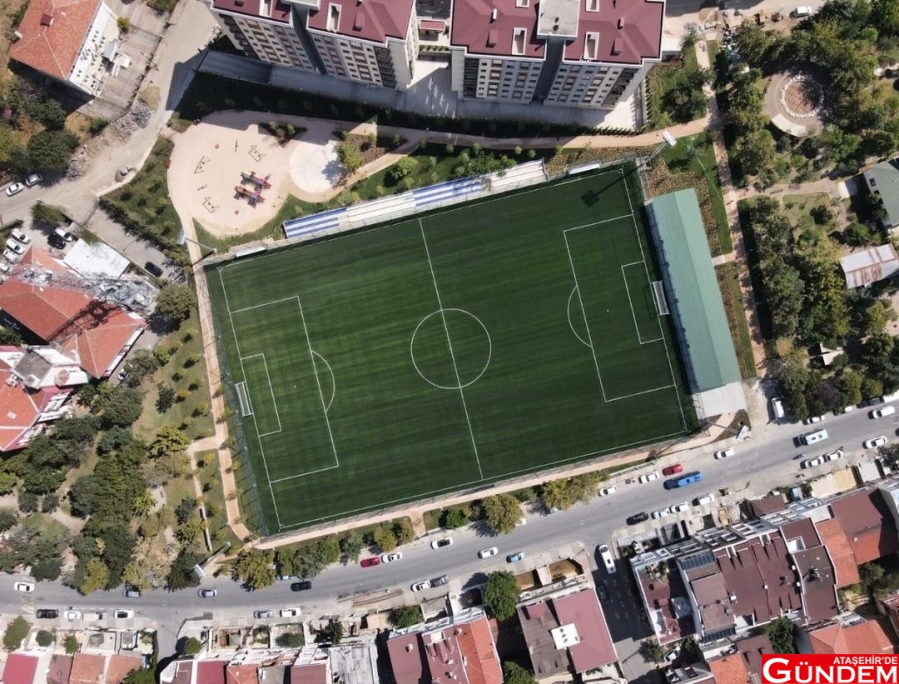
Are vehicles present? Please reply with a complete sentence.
Yes, there is a vehicle in the image.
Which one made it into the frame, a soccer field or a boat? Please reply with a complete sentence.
The one in the frame is a soccer field.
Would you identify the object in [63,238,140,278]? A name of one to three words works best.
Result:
building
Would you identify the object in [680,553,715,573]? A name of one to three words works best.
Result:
solar panel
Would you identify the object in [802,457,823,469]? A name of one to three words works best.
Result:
vehicle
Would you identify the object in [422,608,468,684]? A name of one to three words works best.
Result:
house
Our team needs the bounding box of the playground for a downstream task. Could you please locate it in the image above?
[165,110,355,229]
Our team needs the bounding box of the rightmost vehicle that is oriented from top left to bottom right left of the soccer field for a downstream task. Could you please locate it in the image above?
[143,261,163,277]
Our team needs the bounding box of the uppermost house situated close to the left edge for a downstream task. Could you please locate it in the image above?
[9,0,135,96]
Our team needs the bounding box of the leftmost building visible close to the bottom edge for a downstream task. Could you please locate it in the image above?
[3,641,57,684]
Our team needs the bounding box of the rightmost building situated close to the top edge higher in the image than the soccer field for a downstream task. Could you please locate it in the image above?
[449,0,667,112]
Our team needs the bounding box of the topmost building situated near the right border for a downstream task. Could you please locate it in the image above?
[849,149,899,228]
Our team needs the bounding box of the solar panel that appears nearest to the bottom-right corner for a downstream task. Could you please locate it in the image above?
[702,629,736,647]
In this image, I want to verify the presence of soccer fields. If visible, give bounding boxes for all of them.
[202,161,701,535]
